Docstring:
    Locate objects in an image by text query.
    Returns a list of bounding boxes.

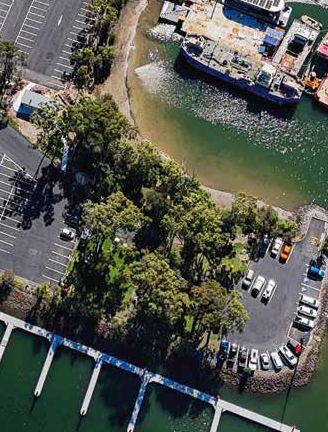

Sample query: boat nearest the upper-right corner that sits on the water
[296,15,321,29]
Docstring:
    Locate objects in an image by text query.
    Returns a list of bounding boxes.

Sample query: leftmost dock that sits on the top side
[159,1,189,25]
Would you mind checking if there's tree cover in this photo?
Yes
